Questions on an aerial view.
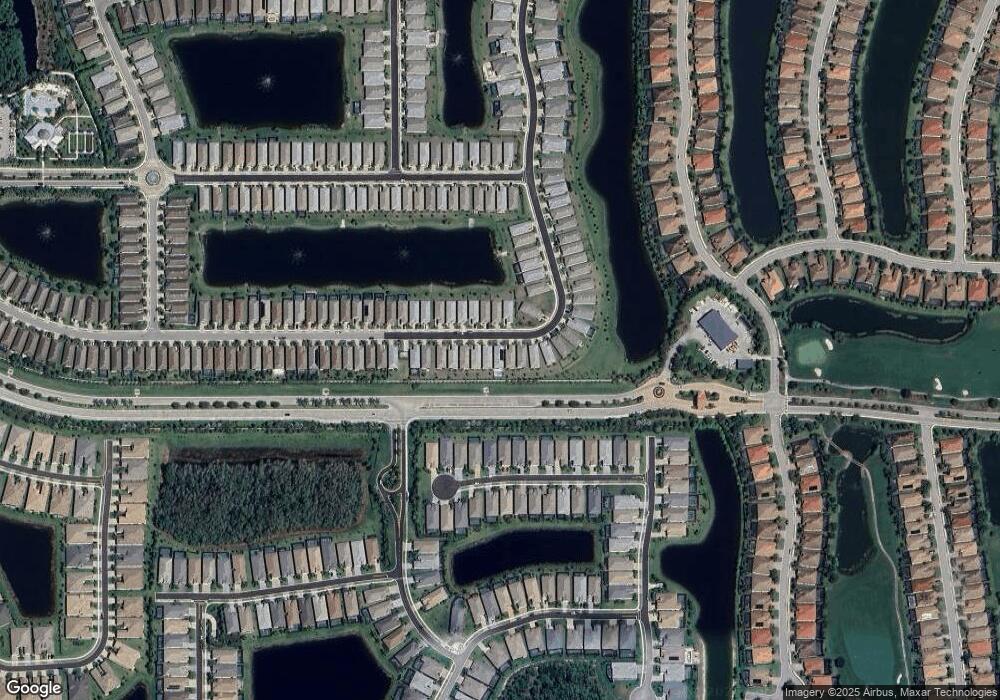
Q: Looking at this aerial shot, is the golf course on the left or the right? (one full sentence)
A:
The golf course is on the right side of the image.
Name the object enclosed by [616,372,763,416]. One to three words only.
roundabout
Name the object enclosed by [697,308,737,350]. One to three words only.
building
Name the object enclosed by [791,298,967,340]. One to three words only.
pond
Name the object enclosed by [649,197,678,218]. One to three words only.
house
